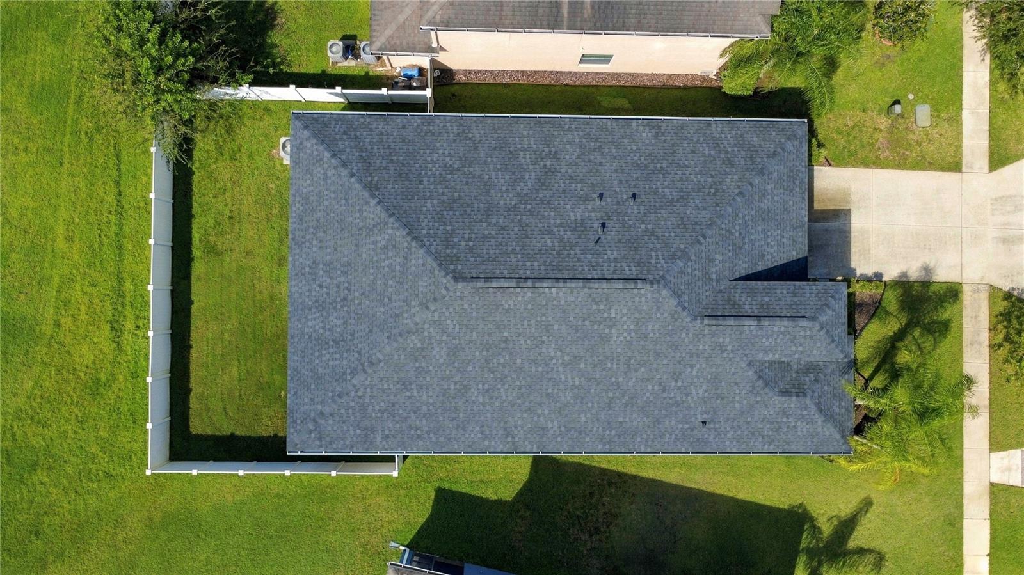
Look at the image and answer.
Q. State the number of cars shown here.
zero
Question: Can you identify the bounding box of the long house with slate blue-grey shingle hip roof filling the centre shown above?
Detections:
[284,110,855,456]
